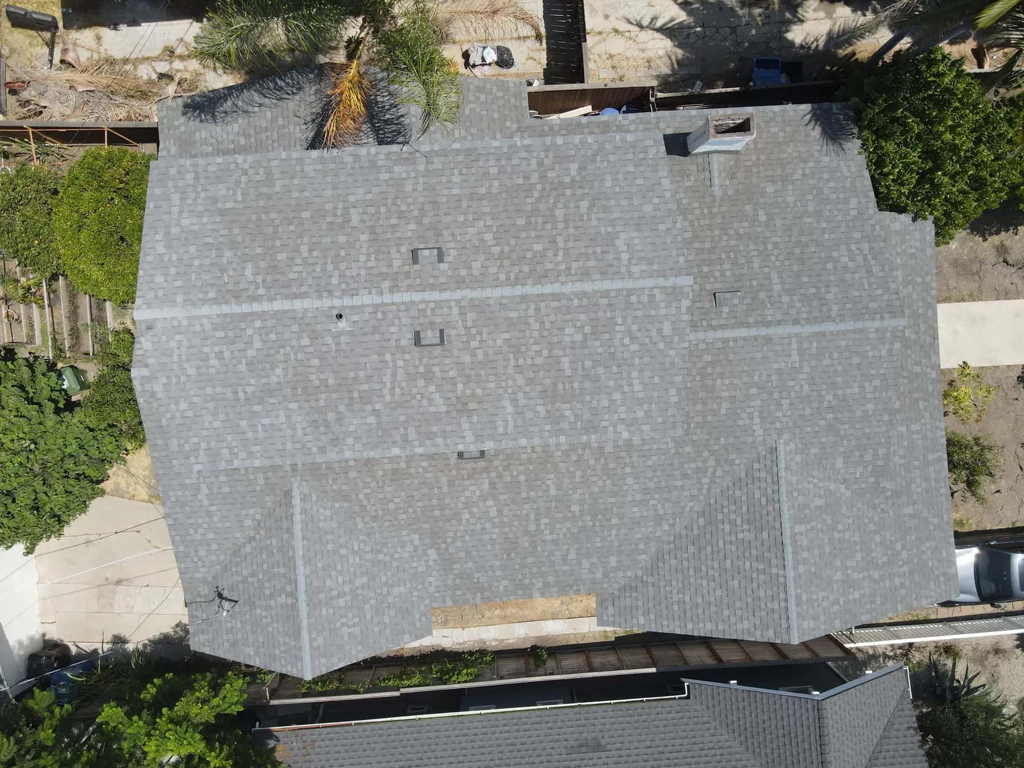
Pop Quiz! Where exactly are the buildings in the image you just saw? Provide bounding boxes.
[130,63,953,682]
[252,640,932,768]
[0,552,50,725]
